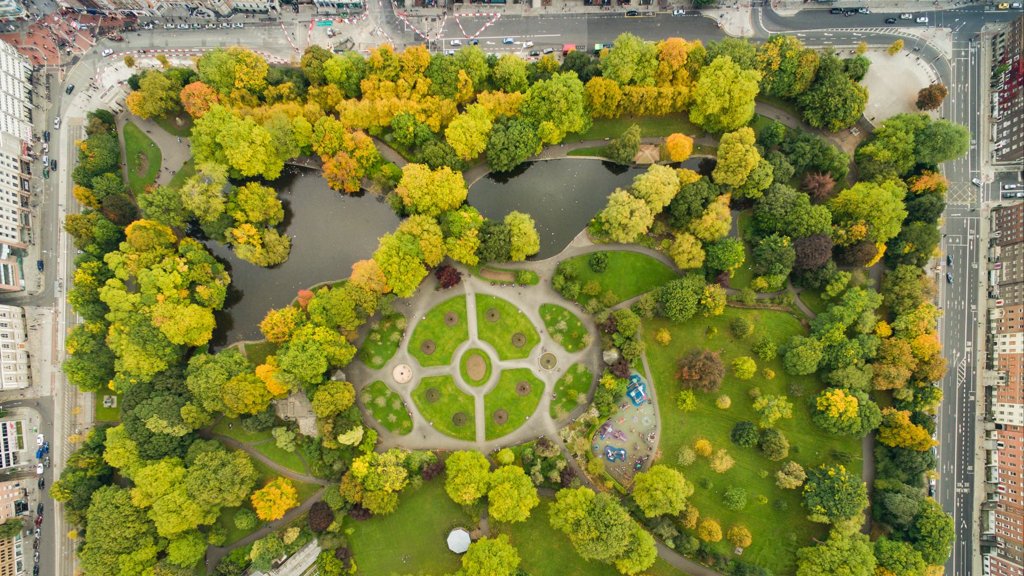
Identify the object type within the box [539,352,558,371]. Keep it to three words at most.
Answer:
fountain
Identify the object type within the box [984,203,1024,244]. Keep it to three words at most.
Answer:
house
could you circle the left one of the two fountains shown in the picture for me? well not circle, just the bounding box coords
[392,364,412,383]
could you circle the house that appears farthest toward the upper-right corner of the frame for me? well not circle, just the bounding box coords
[992,14,1024,64]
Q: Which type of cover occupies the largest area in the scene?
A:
trees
